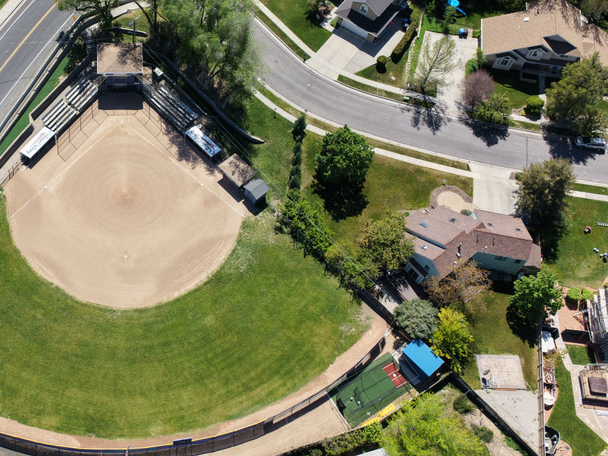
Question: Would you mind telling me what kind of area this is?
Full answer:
The area seen from above is a sports ground.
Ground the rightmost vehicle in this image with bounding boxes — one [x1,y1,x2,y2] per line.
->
[576,135,608,152]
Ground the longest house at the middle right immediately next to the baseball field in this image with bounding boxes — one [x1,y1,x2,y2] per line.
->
[394,206,541,285]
